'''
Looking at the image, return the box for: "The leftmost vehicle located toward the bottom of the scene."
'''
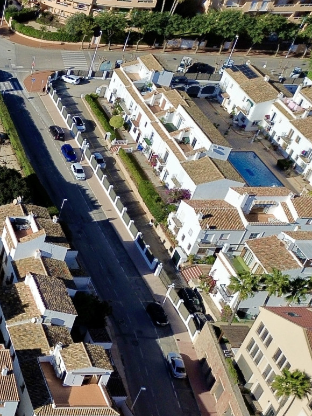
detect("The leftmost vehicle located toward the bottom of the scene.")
[146,298,172,323]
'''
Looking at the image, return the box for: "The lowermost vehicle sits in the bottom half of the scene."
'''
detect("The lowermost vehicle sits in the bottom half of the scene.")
[166,348,189,377]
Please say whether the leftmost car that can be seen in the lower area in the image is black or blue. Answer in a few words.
black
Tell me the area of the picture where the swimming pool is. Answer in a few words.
right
